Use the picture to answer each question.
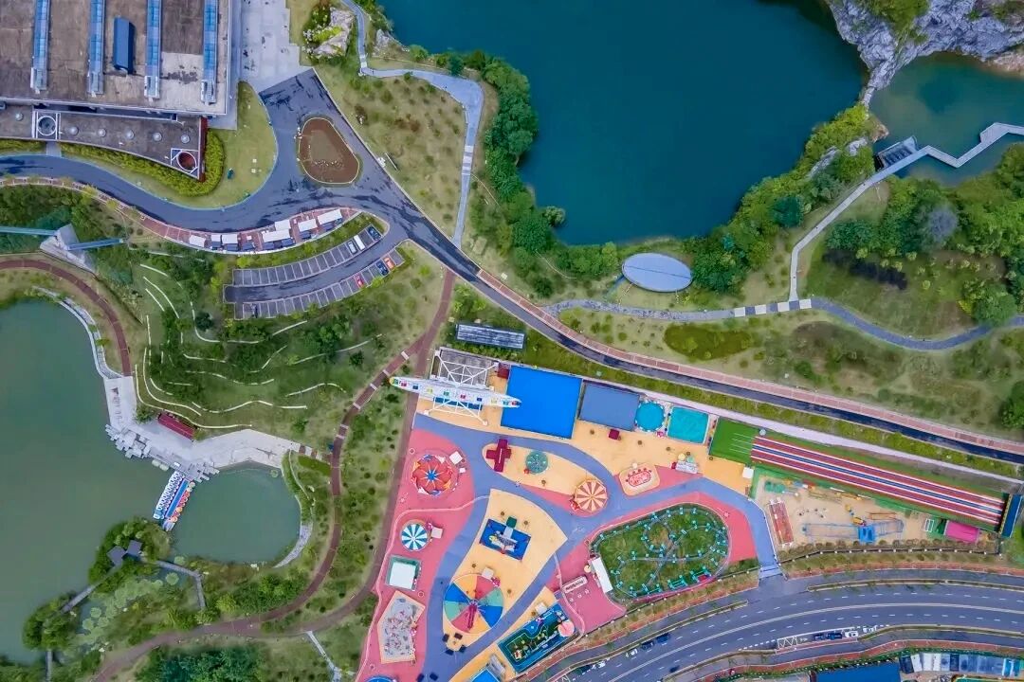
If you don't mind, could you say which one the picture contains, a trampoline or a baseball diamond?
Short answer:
trampoline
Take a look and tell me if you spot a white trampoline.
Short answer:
Yes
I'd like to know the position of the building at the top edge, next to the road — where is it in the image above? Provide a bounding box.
[0,0,241,183]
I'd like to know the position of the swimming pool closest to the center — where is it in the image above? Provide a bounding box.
[636,401,666,431]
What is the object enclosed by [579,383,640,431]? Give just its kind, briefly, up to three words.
building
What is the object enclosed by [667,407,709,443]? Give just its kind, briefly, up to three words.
swimming pool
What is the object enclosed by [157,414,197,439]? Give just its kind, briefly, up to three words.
building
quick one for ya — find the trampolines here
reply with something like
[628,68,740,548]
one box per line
[385,554,421,590]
